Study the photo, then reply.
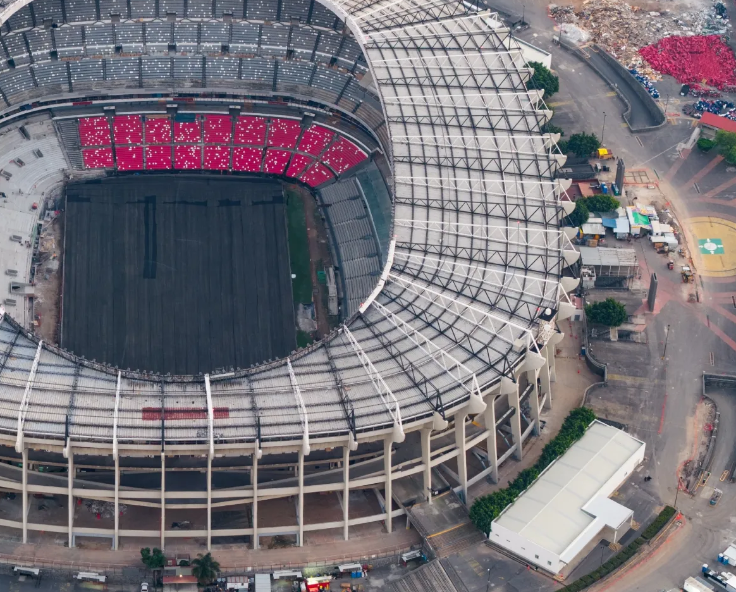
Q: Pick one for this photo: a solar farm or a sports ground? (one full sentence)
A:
It's a sports ground.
